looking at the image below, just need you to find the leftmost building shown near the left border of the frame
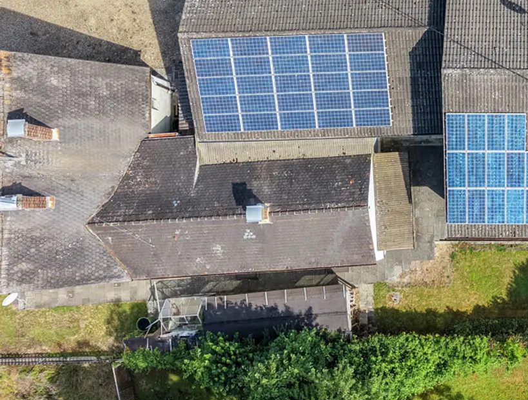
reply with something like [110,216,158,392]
[0,48,176,287]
